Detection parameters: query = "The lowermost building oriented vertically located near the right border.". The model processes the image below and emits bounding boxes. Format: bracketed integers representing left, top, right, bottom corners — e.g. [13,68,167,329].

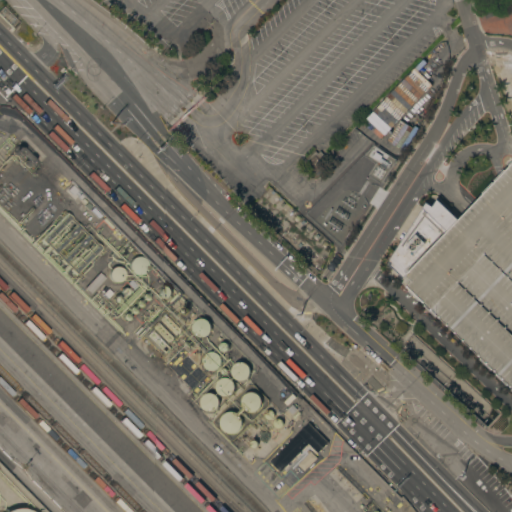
[402,160,512,390]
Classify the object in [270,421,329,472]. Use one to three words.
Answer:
building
